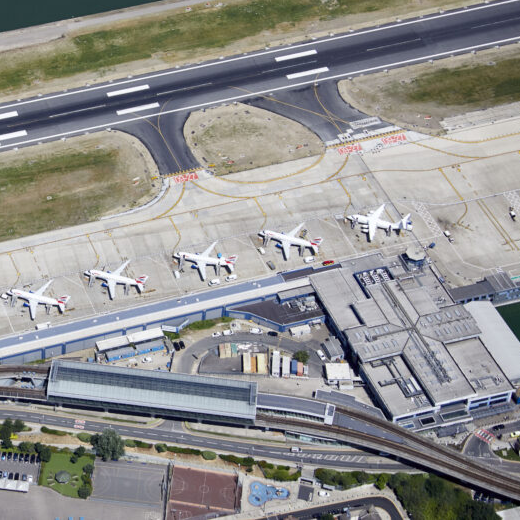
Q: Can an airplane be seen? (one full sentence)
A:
Yes, you can see an airplane in this photo.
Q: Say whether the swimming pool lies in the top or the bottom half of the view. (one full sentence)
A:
The bottom half of the photo is where the swimming pool is.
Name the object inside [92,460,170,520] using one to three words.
sports court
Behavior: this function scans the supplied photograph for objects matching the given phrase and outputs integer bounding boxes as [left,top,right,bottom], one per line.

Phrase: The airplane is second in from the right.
[258,219,324,259]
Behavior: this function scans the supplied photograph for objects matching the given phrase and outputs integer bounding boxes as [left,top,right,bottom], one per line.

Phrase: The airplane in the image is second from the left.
[82,257,149,298]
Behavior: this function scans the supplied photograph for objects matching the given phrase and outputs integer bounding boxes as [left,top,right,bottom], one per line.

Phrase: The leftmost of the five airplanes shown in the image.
[6,277,73,318]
